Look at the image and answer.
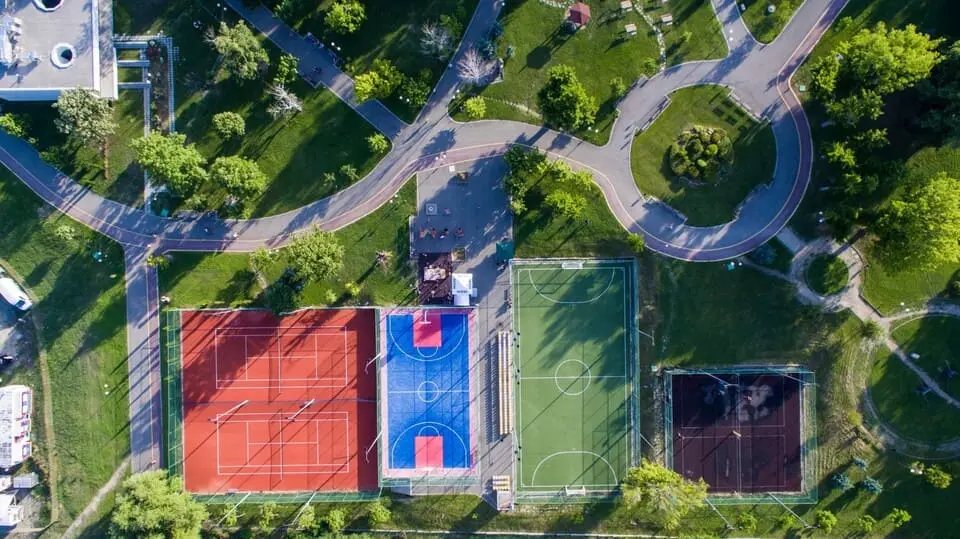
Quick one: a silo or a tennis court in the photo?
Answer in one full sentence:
It is a tennis court that can be seen here.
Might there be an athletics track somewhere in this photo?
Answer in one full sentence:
No, the scene contains no athletics track.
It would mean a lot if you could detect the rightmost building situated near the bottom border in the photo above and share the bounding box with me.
[497,492,511,515]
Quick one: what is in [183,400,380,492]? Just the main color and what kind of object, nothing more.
red tennis court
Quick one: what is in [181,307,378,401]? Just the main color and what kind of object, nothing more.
red tennis court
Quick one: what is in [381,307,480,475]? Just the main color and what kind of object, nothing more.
blue basketball court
